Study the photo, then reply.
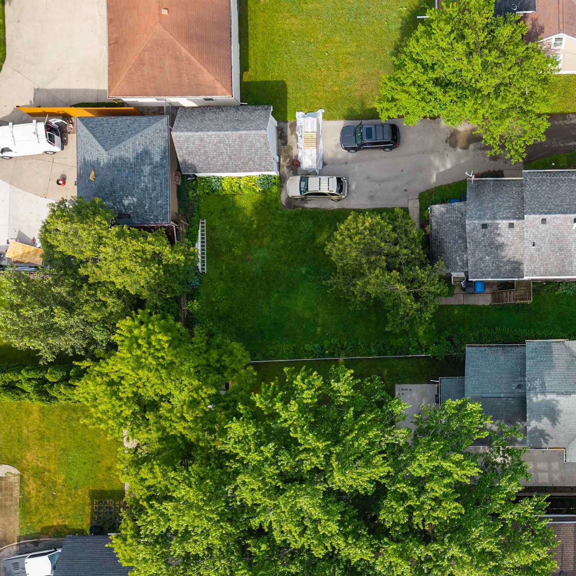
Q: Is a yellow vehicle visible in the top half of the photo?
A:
No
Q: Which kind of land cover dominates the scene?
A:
trees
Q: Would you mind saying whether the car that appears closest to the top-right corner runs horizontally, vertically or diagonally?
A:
horizontally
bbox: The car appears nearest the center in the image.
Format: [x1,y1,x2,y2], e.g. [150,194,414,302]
[287,174,350,203]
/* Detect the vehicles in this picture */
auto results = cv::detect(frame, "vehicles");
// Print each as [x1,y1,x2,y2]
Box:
[0,118,74,160]
[340,123,401,153]
[287,174,350,203]
[3,546,62,576]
